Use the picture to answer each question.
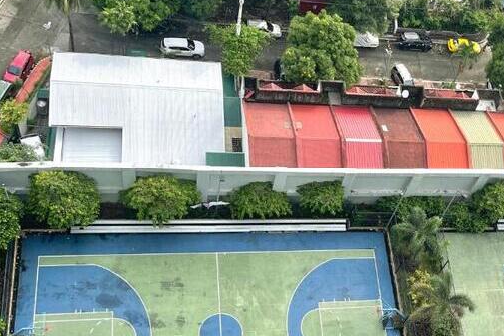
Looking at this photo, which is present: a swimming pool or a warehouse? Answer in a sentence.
This aerial view contains a warehouse.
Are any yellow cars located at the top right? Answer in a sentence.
Yes, you'll find a yellow car at the top right.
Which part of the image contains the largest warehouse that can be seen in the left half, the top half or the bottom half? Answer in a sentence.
The largest warehouse that can be seen in the left half sits in the top half of the picture.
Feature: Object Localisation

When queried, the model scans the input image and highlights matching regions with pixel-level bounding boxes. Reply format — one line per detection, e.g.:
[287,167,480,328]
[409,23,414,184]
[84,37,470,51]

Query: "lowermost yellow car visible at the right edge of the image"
[446,34,482,52]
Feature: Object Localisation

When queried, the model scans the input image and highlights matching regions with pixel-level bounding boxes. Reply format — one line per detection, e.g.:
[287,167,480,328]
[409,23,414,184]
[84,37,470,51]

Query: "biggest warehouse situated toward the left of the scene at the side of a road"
[49,50,227,162]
